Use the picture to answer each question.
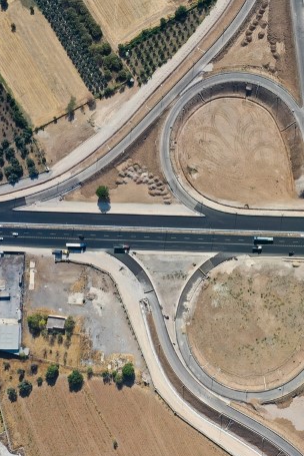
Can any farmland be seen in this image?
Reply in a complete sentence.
Yes, farmland shows up in the scene.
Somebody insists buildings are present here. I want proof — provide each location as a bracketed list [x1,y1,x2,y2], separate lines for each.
[46,315,69,332]
[0,317,25,349]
